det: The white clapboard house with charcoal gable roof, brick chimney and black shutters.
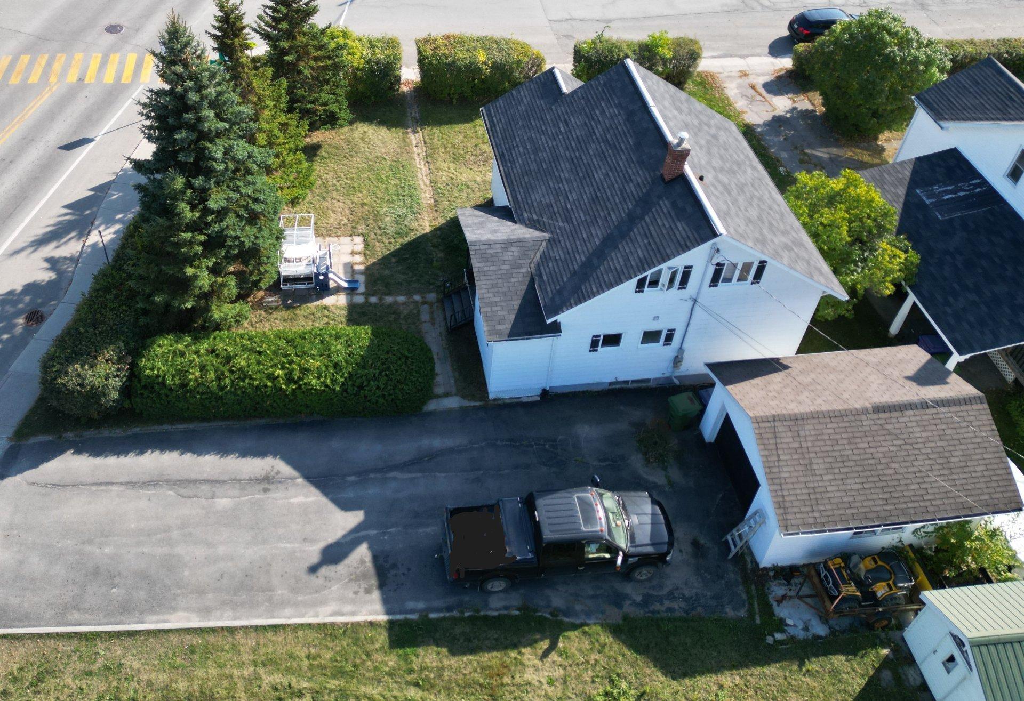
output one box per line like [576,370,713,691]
[438,59,850,400]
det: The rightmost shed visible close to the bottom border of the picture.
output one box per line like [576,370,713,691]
[904,576,1024,701]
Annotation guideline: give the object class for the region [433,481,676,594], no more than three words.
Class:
truck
